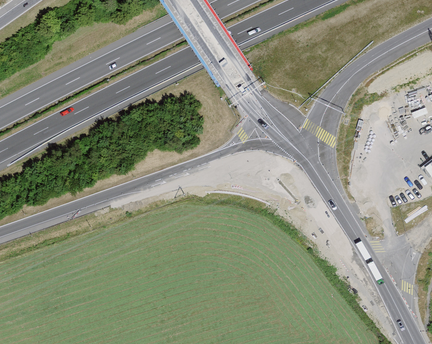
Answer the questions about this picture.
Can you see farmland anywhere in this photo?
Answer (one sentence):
Yes, farmland can be seen from above here.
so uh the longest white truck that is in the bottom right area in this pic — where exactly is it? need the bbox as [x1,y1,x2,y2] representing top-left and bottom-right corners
[356,241,386,284]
